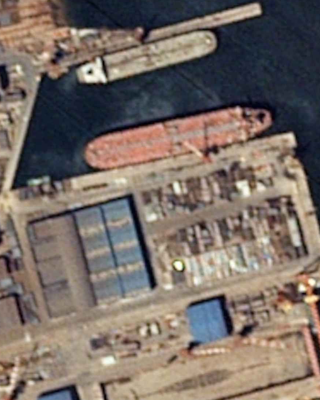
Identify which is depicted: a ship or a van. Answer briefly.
ship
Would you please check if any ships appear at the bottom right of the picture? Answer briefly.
No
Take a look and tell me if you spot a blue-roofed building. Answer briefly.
Yes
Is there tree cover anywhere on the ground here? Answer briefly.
No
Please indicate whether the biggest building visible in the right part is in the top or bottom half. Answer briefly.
bottom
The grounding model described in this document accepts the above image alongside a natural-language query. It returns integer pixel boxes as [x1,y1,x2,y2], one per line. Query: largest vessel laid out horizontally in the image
[84,102,274,167]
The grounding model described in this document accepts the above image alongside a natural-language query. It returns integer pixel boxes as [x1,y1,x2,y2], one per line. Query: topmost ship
[78,37,217,85]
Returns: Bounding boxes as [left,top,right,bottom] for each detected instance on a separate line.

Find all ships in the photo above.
[78,37,217,85]
[84,102,274,167]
